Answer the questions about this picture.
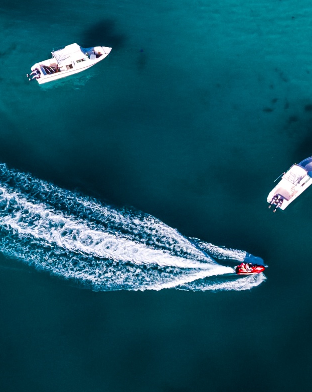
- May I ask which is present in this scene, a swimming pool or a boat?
boat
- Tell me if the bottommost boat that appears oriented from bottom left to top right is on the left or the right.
right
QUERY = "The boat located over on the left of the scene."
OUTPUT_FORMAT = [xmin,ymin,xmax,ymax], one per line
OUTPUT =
[24,43,111,84]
